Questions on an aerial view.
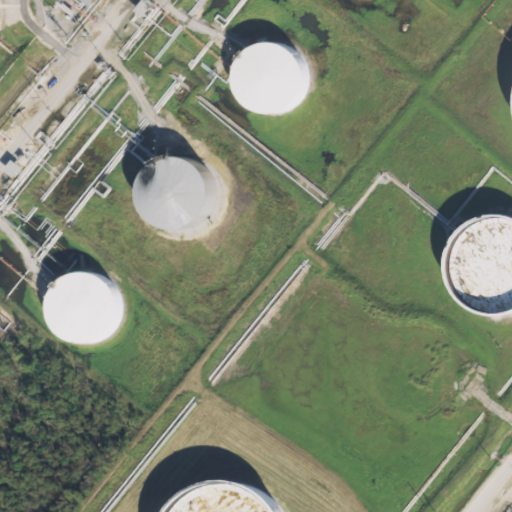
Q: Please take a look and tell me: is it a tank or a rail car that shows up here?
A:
tank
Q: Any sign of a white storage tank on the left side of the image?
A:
Yes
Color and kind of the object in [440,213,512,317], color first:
white storage tank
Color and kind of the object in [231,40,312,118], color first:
white storage tank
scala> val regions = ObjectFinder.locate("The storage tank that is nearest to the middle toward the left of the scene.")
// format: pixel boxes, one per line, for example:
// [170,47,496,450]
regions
[132,151,218,236]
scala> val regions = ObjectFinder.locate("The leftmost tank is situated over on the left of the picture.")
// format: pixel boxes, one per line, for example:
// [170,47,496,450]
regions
[42,270,122,346]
